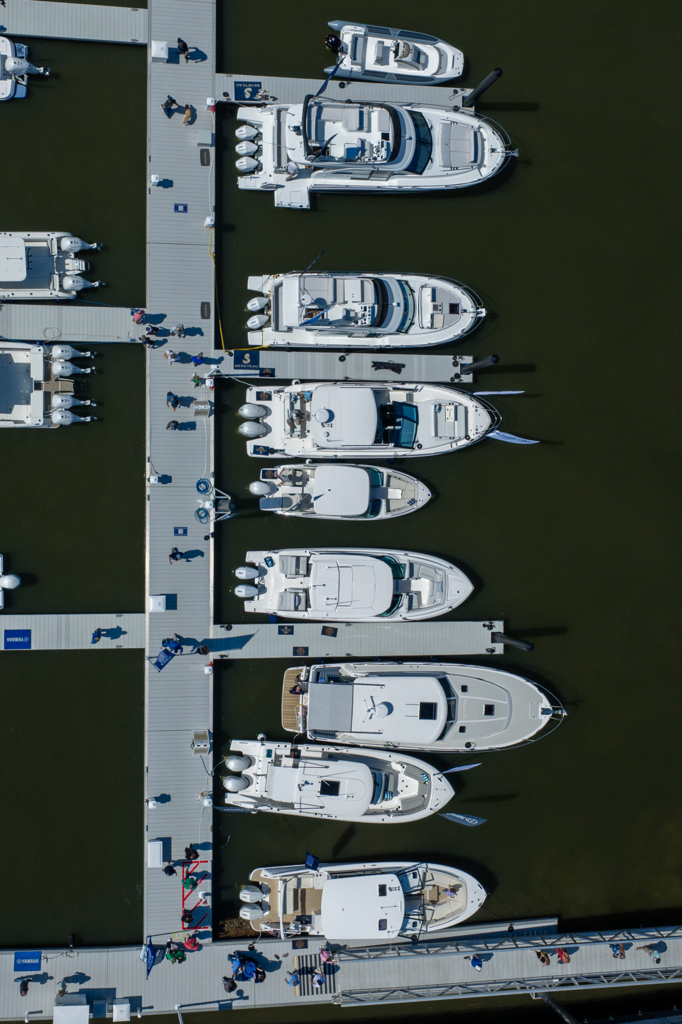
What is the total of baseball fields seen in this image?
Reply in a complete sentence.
I count no baseball fields.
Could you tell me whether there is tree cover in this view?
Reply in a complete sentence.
No, tree cover can't be seen anywhere here.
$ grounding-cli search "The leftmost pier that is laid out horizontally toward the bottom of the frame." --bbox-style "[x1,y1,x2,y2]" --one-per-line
[0,613,145,650]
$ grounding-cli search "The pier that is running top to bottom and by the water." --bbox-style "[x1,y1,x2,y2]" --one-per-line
[144,0,216,945]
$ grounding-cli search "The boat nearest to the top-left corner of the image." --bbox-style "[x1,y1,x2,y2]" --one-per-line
[0,36,56,107]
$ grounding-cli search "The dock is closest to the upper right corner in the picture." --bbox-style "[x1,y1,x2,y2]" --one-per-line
[216,74,474,117]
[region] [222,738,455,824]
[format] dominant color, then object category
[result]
white boat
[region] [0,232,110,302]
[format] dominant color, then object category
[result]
white boat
